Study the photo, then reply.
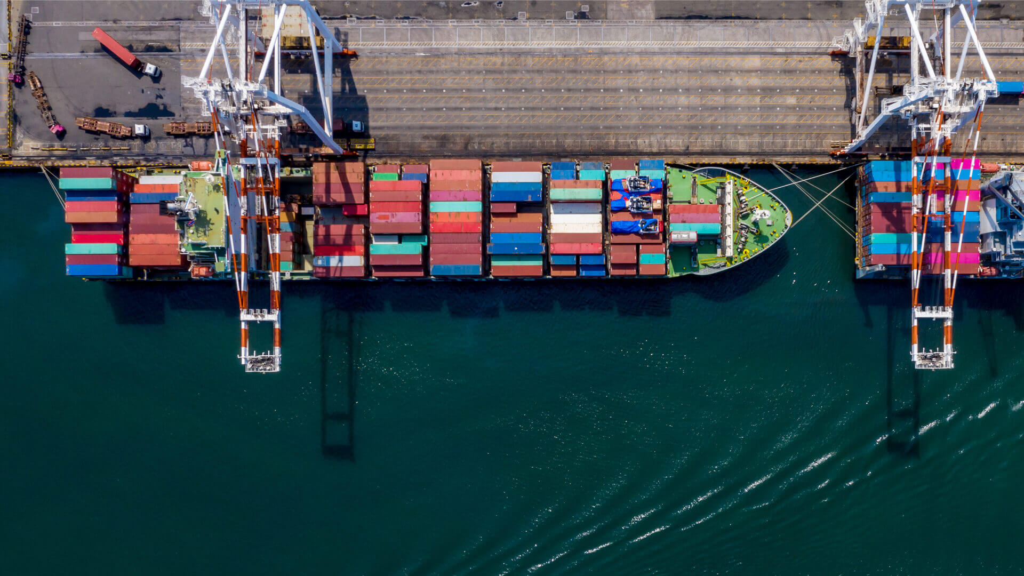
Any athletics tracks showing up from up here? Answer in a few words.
No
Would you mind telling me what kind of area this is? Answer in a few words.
port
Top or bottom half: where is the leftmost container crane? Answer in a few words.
top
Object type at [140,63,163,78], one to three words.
vehicle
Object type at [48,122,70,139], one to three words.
vehicle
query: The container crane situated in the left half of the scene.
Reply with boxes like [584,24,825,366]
[180,0,359,373]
